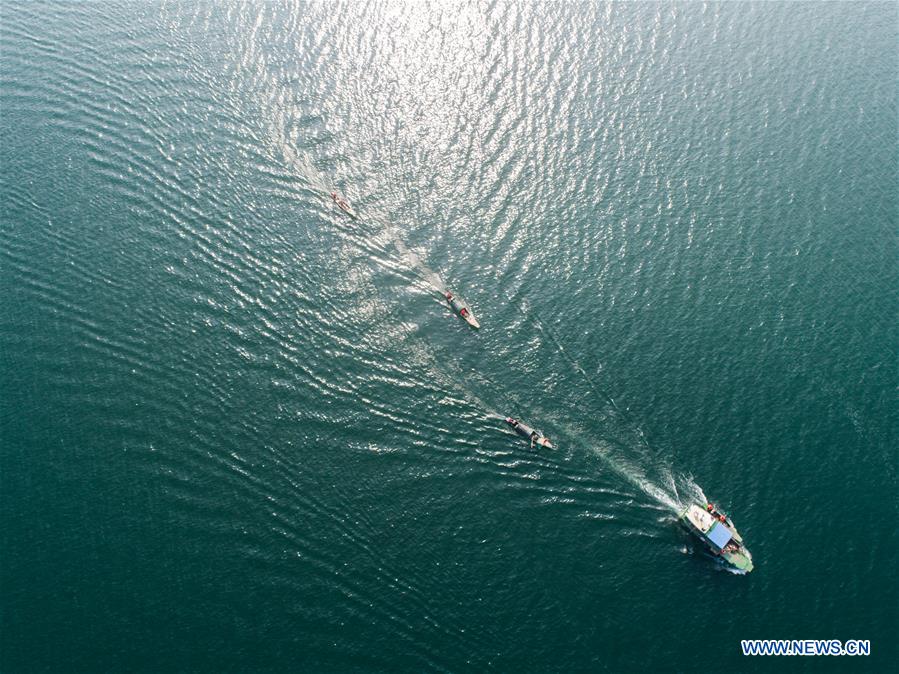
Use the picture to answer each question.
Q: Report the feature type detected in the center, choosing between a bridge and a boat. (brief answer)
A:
boat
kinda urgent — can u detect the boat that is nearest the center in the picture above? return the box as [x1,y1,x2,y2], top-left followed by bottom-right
[445,290,479,327]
